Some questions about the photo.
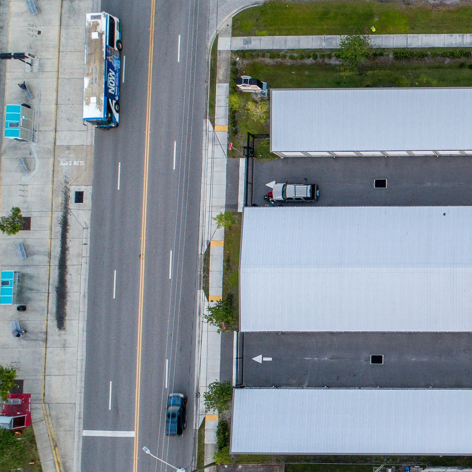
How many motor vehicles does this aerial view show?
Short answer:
three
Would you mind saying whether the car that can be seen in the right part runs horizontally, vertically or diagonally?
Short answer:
horizontally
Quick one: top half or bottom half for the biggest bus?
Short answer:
top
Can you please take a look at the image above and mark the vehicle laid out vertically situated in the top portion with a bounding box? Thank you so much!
[82,12,122,129]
